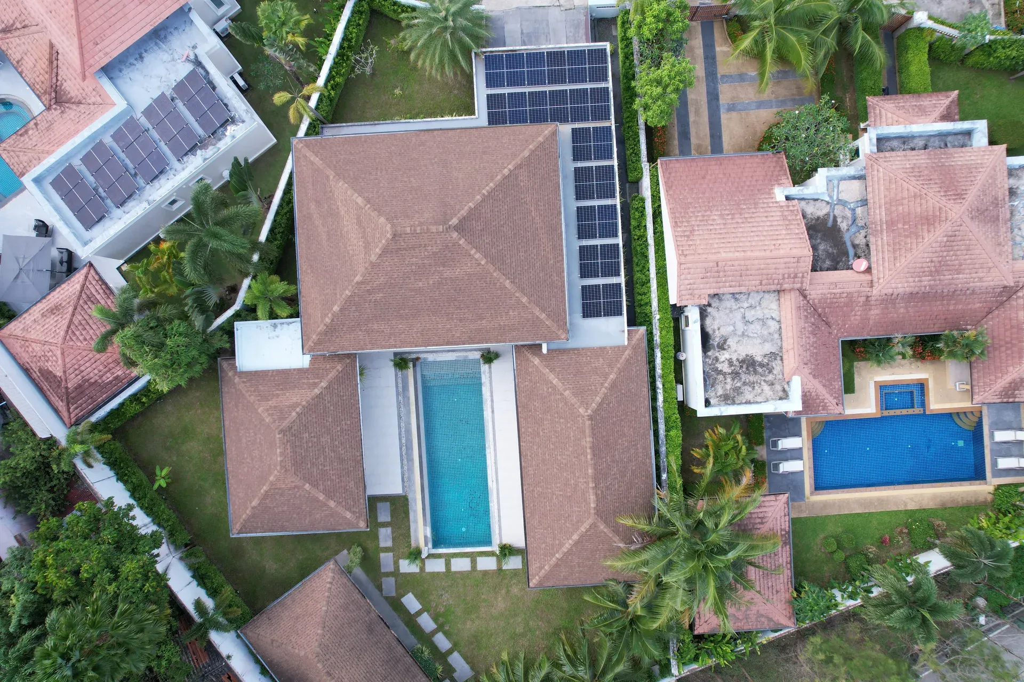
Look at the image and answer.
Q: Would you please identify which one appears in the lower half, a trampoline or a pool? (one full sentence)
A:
It is a pool that can be seen in the lower half.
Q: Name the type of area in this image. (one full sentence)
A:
The picture captures a residential area.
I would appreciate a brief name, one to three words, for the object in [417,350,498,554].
swimming pool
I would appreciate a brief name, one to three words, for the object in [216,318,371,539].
house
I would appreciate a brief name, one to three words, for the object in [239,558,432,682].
house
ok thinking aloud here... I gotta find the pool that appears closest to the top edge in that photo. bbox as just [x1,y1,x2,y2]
[0,92,33,214]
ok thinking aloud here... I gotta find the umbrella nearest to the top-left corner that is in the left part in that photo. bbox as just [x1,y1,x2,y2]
[0,234,78,305]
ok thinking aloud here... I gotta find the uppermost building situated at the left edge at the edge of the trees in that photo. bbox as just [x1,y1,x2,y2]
[0,0,279,265]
